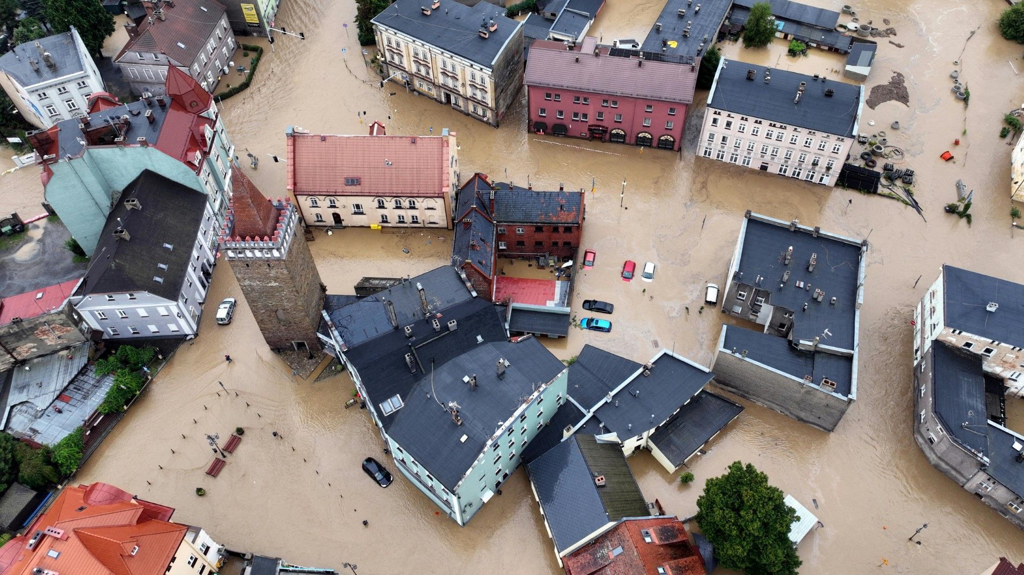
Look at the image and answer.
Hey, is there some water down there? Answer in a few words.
Yes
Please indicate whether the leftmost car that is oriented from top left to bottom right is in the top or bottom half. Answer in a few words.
bottom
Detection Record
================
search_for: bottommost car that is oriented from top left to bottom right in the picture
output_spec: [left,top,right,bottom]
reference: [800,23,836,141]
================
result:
[359,453,393,488]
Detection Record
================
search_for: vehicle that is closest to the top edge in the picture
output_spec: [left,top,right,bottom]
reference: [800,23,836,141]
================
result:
[615,35,641,49]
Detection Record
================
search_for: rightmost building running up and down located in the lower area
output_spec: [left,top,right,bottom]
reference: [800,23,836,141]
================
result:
[913,265,1024,541]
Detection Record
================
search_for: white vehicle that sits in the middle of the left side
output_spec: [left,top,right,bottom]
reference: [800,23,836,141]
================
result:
[214,296,236,324]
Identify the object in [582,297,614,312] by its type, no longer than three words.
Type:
car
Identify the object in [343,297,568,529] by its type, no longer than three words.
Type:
house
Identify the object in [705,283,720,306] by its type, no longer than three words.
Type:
car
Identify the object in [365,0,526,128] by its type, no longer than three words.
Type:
building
